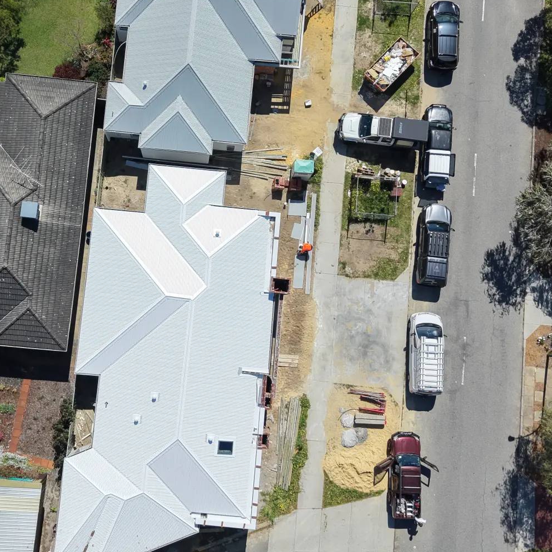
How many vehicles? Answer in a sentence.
Looking from above, you can make out 6 vehicles.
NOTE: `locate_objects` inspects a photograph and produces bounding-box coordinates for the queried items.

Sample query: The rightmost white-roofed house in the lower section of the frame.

[52,163,289,552]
